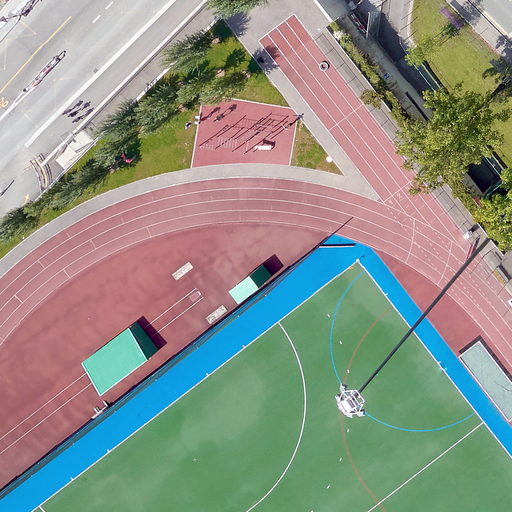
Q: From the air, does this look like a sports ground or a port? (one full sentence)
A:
The picture captures a sports ground.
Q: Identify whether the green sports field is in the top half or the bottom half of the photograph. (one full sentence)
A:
It is in the bottom half that the green sports field appears.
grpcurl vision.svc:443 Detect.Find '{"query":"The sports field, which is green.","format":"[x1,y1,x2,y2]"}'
[0,232,512,512]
